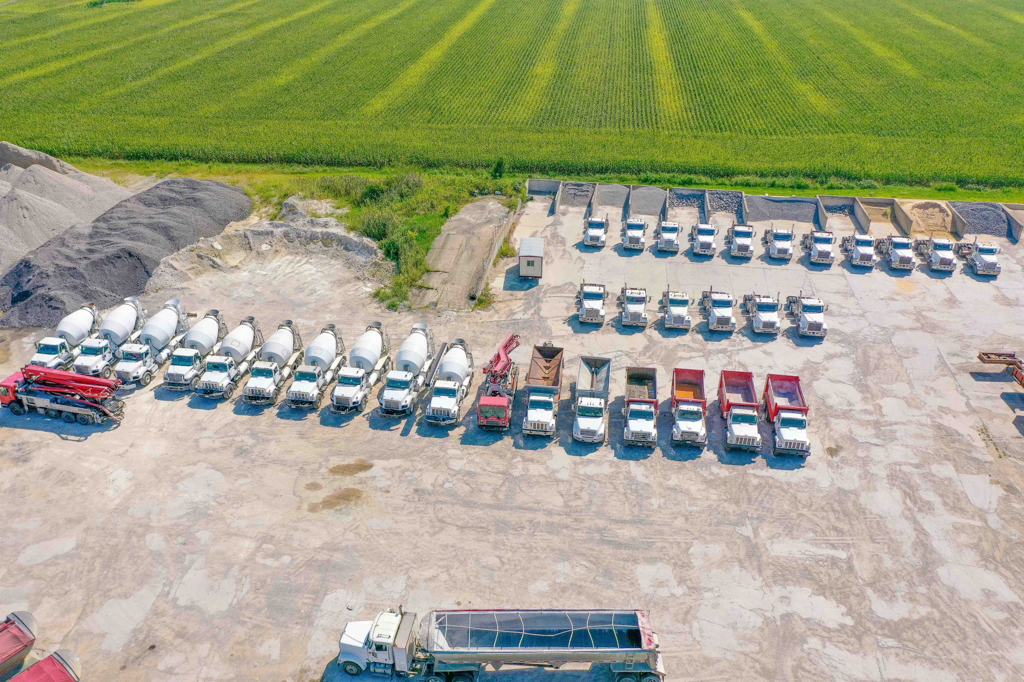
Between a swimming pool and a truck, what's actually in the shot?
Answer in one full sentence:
Of the two, only a truck appears.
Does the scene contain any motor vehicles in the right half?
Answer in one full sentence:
Yes, a motor vehicle shows up in the right half.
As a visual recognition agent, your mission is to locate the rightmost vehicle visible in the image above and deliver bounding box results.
[954,235,1003,275]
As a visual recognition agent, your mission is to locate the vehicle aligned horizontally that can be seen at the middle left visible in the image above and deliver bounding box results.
[0,369,124,429]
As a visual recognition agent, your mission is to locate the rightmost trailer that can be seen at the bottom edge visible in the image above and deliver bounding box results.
[429,607,664,682]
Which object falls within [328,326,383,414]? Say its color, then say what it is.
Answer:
white truck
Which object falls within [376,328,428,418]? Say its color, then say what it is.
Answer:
white truck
